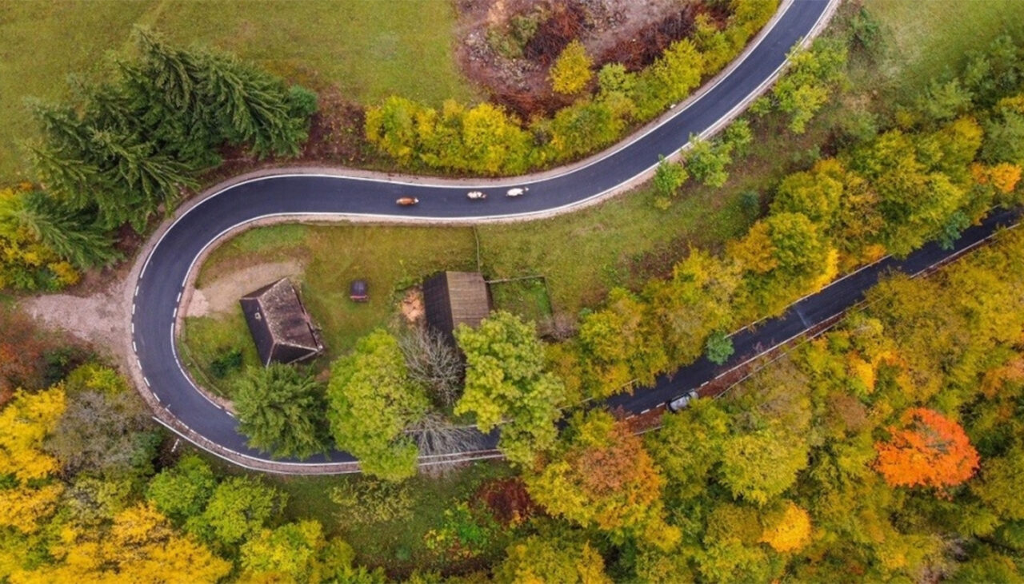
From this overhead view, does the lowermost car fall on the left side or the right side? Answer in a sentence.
The lowermost car appears in the right half of the scene.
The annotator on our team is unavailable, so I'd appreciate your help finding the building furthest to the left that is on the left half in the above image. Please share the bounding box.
[238,278,318,370]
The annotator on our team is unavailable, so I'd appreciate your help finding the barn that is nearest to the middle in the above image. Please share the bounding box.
[423,270,491,355]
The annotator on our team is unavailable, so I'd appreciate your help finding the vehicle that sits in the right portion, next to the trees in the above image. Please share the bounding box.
[665,390,696,413]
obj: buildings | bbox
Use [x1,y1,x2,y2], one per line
[423,270,491,355]
[238,278,318,370]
